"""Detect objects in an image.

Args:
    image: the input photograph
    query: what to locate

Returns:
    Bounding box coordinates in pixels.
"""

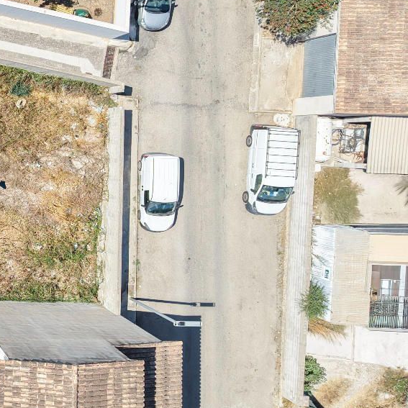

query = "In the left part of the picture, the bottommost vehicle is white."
[140,153,184,232]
